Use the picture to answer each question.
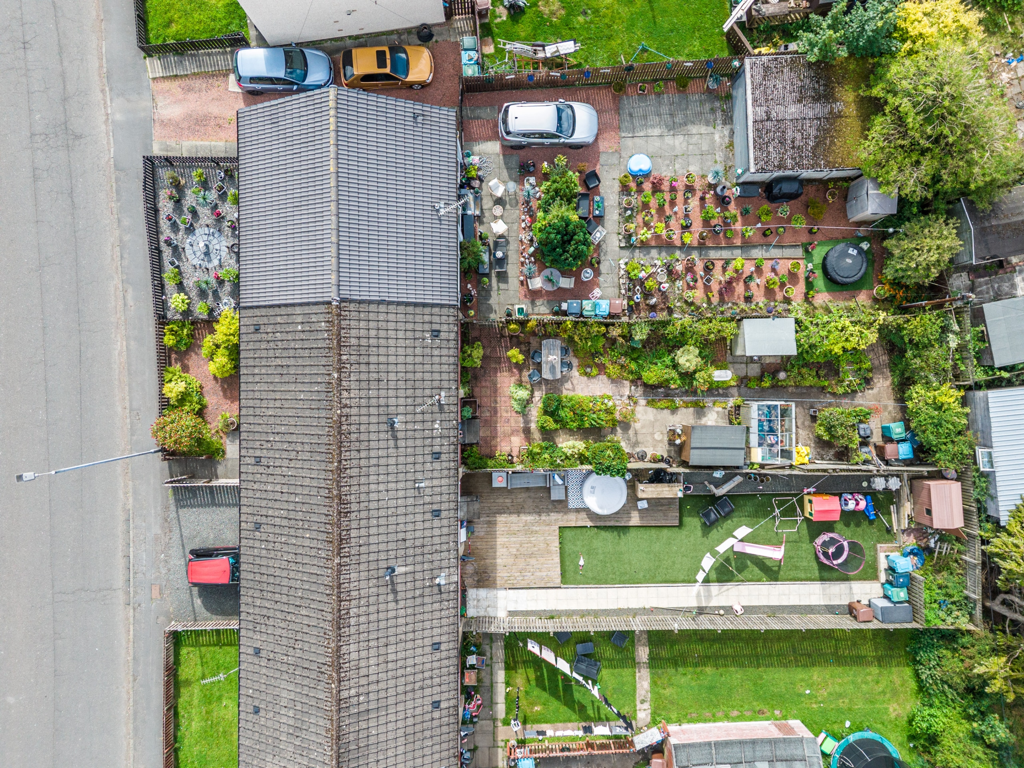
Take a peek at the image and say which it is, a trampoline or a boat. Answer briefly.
trampoline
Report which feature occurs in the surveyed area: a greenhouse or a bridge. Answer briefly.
greenhouse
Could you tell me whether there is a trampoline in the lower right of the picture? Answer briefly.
Yes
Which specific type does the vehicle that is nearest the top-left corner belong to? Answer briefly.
automobile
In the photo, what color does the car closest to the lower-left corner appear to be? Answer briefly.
red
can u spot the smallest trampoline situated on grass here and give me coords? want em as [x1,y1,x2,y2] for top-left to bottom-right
[815,533,865,574]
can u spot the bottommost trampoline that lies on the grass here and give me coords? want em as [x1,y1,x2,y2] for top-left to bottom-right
[825,725,918,768]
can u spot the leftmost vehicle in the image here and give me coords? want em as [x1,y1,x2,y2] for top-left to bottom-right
[190,545,236,592]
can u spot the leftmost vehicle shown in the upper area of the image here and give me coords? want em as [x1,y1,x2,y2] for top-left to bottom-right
[235,42,335,97]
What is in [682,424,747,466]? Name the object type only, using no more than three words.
shed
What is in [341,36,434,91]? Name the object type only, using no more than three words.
car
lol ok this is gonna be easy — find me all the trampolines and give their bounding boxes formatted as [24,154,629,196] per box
[825,725,918,768]
[815,533,865,574]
